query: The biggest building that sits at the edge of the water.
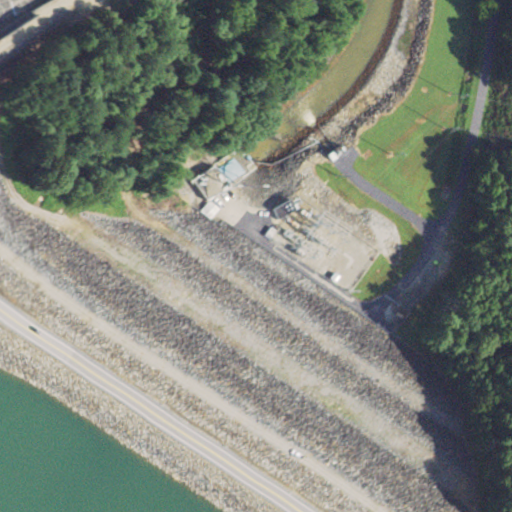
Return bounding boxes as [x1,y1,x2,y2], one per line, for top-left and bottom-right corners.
[188,153,256,220]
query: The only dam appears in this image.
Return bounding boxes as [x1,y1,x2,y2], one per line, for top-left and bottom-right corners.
[0,172,482,512]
